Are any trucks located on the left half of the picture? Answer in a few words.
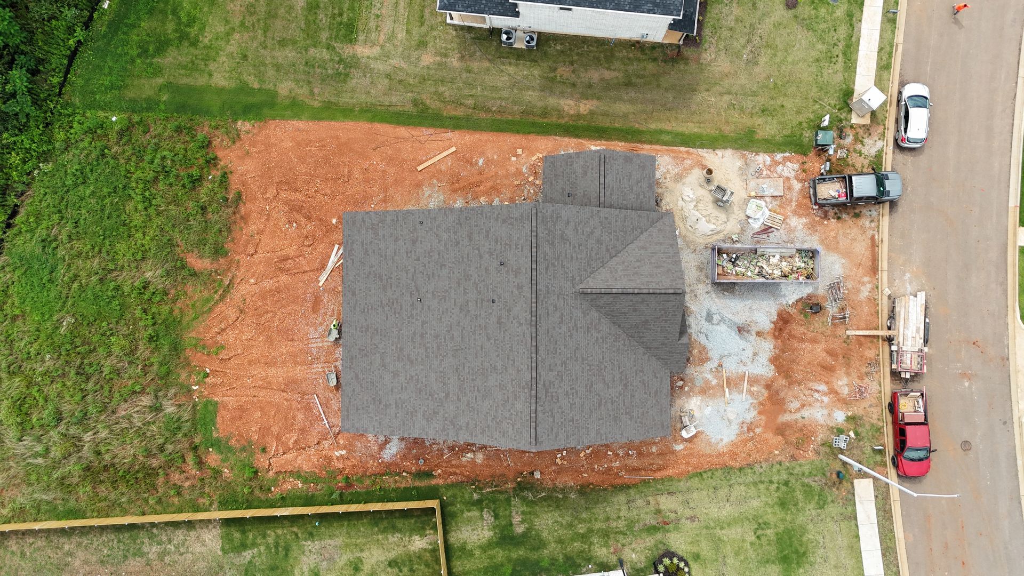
No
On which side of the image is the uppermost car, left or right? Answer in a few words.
right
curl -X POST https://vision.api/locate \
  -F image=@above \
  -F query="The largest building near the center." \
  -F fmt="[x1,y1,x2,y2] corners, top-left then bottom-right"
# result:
[342,149,689,450]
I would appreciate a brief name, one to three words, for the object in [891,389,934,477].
truck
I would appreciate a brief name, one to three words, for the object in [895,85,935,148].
car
